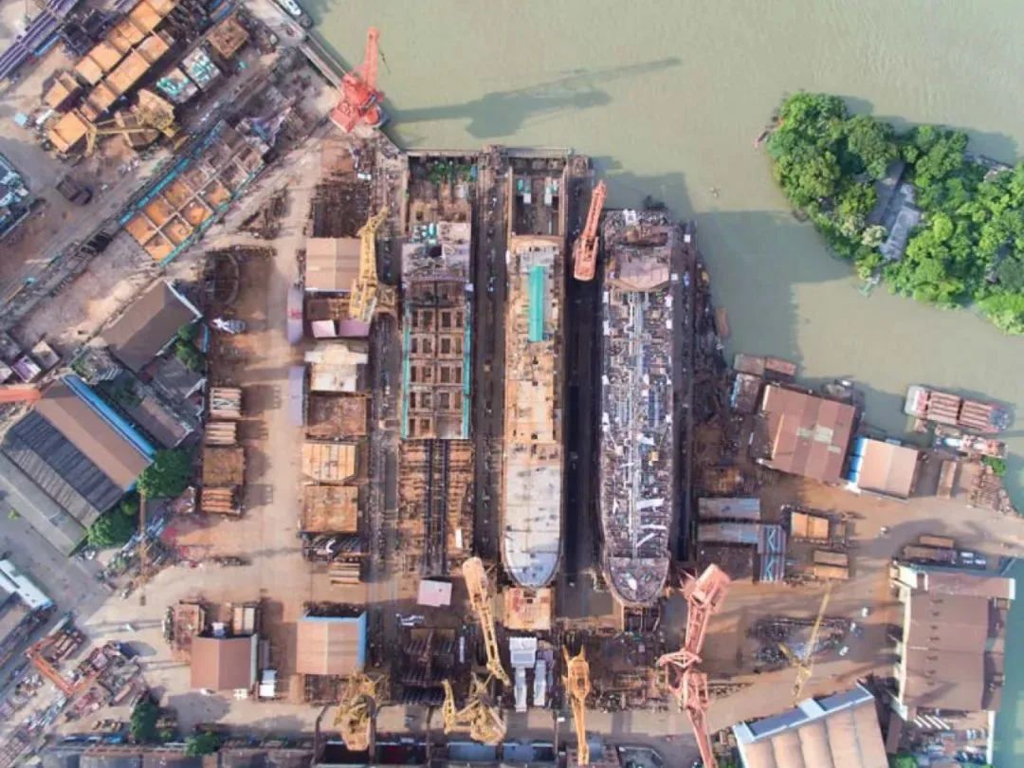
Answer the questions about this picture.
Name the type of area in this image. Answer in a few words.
port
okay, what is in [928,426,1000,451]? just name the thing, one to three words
boat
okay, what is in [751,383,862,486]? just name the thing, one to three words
shed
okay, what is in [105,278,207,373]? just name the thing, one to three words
shed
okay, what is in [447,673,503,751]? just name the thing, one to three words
crane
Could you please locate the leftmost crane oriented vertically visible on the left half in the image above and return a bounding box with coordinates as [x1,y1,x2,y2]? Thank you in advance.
[125,506,155,608]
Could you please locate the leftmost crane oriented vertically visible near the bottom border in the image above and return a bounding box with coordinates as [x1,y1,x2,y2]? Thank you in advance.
[342,642,383,751]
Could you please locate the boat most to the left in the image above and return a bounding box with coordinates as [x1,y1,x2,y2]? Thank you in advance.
[213,320,243,332]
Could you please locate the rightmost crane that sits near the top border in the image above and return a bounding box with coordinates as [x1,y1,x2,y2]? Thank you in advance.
[329,26,394,148]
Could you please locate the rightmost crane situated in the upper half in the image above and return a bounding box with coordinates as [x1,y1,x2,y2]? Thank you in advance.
[567,181,601,282]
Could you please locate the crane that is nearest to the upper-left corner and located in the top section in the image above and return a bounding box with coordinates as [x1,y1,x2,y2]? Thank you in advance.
[92,99,196,152]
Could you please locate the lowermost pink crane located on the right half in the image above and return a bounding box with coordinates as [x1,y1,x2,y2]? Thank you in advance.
[662,654,714,768]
